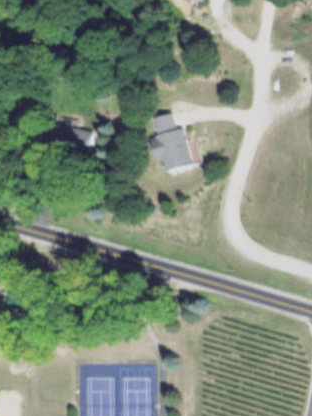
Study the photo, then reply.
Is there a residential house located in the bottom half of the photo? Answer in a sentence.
No, looking in the bottom half of the photo, there is no residential house.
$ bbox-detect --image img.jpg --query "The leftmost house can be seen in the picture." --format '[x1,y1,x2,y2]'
[72,128,99,149]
